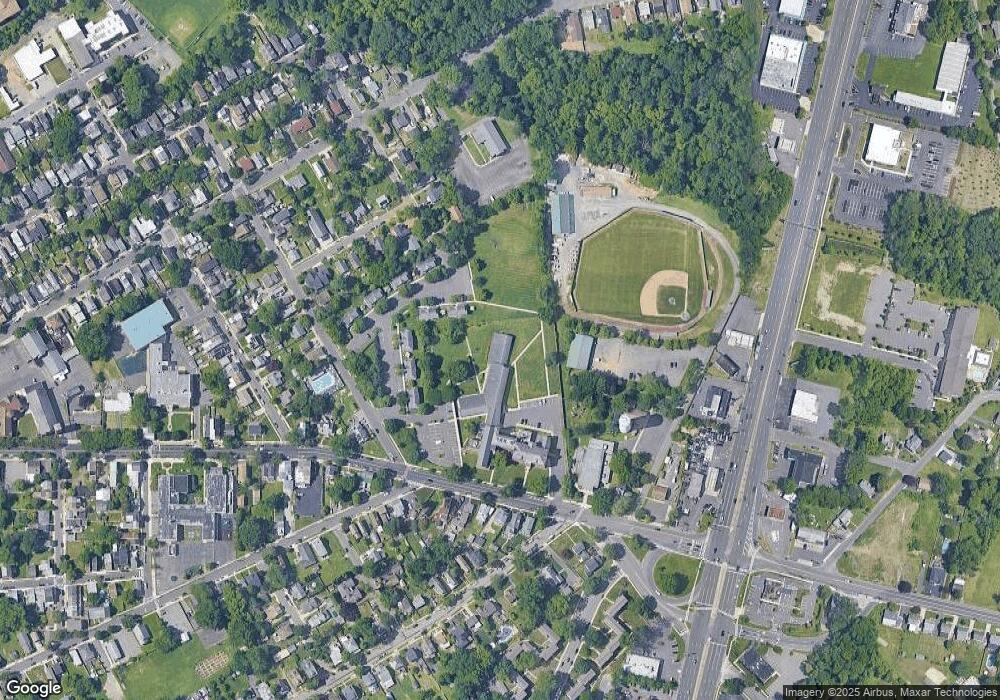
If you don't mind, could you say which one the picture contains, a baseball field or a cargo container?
baseball field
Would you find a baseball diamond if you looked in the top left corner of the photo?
Yes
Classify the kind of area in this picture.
residential area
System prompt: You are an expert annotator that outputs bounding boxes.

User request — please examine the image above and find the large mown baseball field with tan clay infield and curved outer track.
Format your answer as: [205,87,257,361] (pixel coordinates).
[569,193,742,341]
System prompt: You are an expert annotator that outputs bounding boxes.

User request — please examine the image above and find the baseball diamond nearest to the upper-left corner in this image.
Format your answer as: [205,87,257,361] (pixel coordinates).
[131,0,224,55]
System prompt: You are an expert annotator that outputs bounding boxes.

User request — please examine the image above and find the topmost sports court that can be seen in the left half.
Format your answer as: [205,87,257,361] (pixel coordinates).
[120,352,146,376]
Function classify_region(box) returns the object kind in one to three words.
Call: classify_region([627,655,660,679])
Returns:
building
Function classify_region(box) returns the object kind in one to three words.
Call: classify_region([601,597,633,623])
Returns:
house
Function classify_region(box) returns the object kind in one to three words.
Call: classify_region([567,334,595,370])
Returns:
shed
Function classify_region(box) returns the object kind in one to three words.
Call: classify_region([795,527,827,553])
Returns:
building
